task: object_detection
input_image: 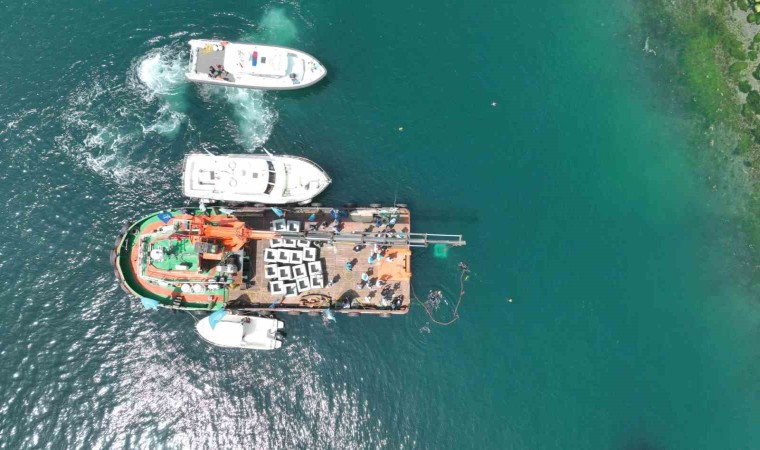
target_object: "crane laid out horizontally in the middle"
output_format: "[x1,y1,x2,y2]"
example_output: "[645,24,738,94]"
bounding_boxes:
[190,215,466,262]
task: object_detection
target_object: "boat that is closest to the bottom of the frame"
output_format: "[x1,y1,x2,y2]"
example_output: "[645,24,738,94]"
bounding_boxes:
[195,316,286,349]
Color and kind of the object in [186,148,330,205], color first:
white boat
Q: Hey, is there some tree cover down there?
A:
No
